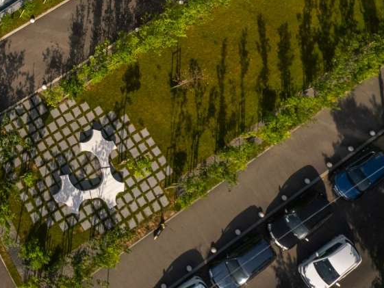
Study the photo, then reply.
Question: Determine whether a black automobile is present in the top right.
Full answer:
No, there is no black automobile in the top right.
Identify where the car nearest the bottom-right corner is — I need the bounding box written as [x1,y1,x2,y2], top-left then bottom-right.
[296,232,367,288]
